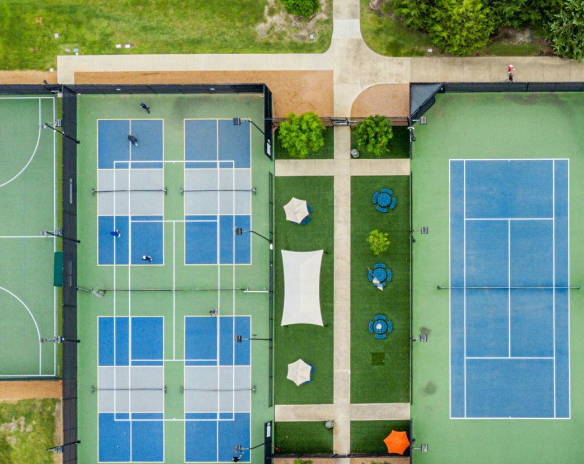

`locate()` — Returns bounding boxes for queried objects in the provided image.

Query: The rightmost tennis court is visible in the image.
[409,91,584,464]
